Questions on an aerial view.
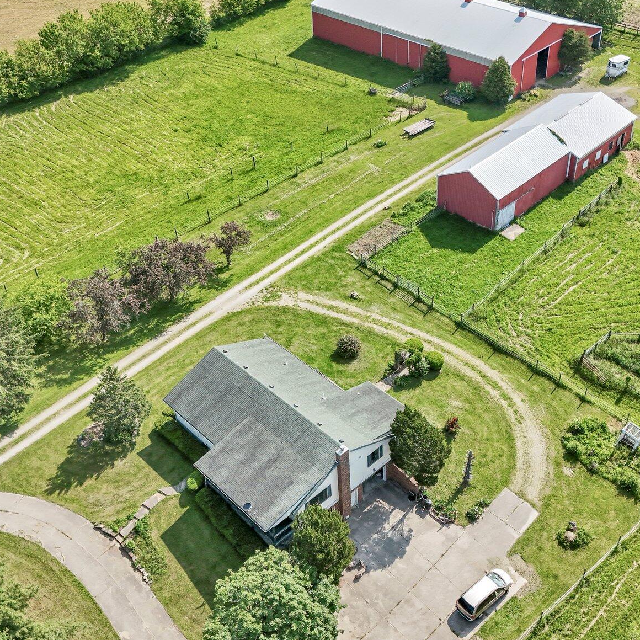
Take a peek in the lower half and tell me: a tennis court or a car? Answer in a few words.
car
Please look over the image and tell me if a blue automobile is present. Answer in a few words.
No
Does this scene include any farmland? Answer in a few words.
Yes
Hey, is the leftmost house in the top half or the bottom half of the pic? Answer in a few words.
bottom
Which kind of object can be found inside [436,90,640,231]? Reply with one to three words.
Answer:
barn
